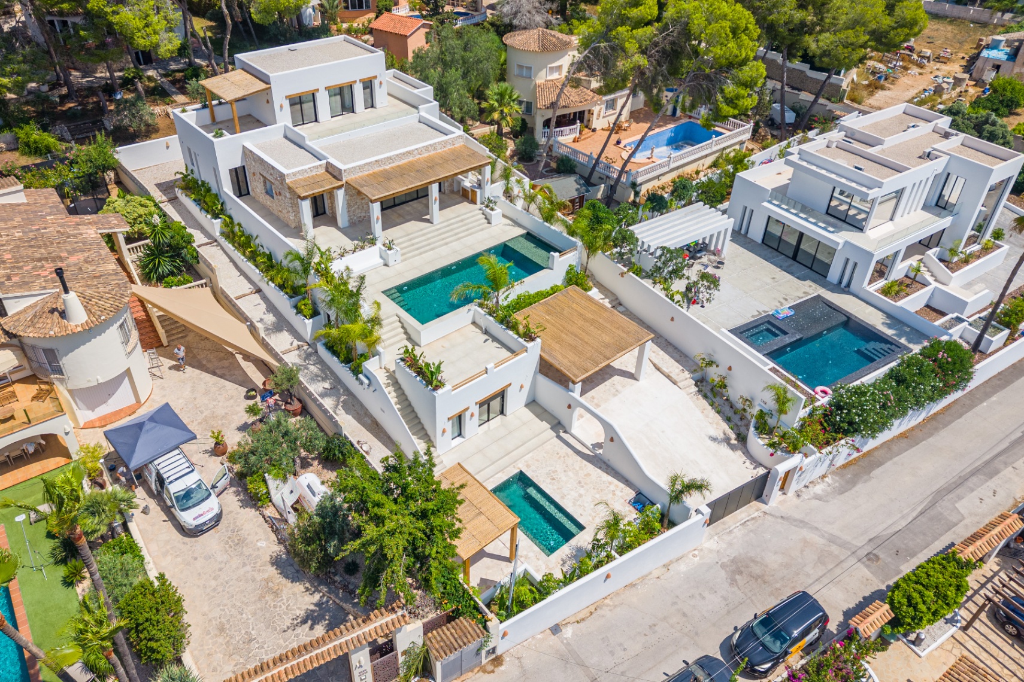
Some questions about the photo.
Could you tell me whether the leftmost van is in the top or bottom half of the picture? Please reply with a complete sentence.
Seen from above, the leftmost van lies in the bottom half of the view.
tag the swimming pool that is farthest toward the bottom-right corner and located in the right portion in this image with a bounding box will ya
[733,293,913,393]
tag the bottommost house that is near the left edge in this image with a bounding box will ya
[0,174,159,502]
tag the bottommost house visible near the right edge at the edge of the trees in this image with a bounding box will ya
[723,102,1024,293]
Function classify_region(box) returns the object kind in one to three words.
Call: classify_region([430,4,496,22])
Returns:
swimming pool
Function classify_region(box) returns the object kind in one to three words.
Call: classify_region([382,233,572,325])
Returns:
swimming pool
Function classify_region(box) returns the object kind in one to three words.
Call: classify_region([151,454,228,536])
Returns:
van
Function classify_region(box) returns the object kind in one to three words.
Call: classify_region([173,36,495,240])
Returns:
house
